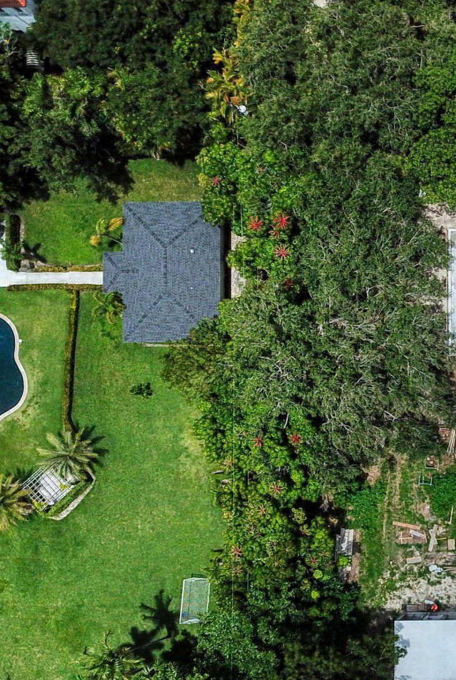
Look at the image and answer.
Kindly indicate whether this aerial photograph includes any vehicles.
No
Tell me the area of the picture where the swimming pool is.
left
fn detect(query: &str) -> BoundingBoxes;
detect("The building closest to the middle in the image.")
[102,200,231,347]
